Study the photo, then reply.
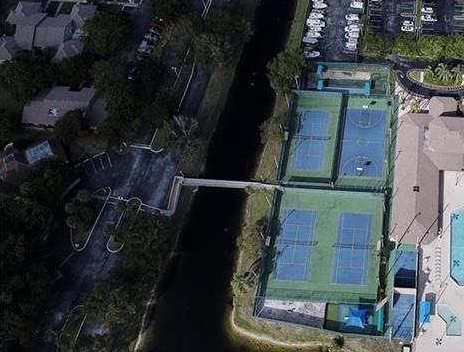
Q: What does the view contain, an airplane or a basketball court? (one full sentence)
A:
Looking from above, you can make out a basketball court.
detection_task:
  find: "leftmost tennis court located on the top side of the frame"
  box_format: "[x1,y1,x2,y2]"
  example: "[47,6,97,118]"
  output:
[282,94,344,181]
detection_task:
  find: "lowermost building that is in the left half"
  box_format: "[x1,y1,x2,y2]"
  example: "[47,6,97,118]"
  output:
[0,158,28,191]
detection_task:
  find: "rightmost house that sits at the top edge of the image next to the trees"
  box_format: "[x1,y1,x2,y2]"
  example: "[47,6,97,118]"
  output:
[31,4,97,67]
